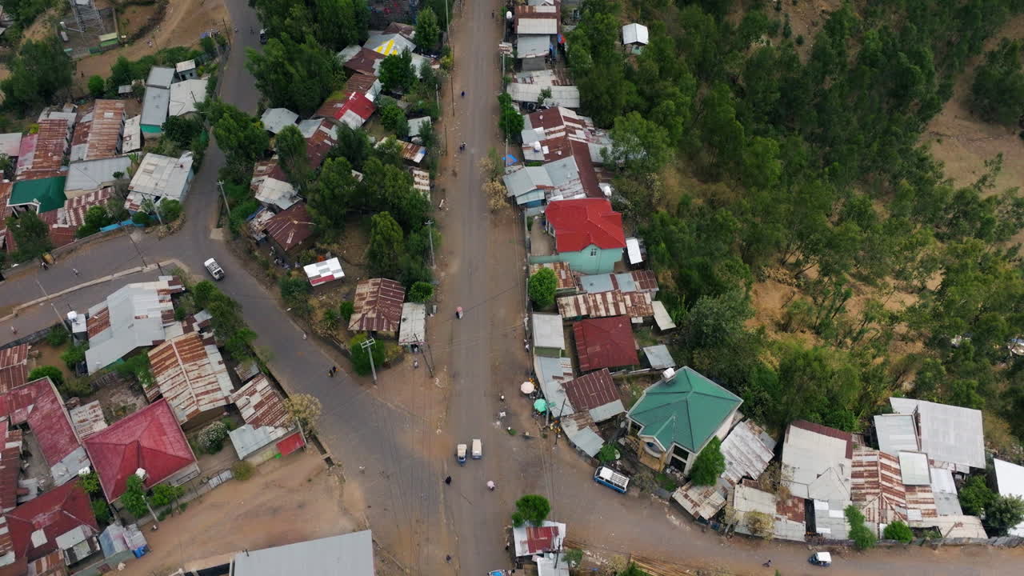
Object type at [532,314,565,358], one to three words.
building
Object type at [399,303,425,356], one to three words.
building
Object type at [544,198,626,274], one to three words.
house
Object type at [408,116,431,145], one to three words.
shed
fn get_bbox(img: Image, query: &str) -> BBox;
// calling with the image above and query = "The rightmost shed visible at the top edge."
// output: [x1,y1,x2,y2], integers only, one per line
[623,23,648,54]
